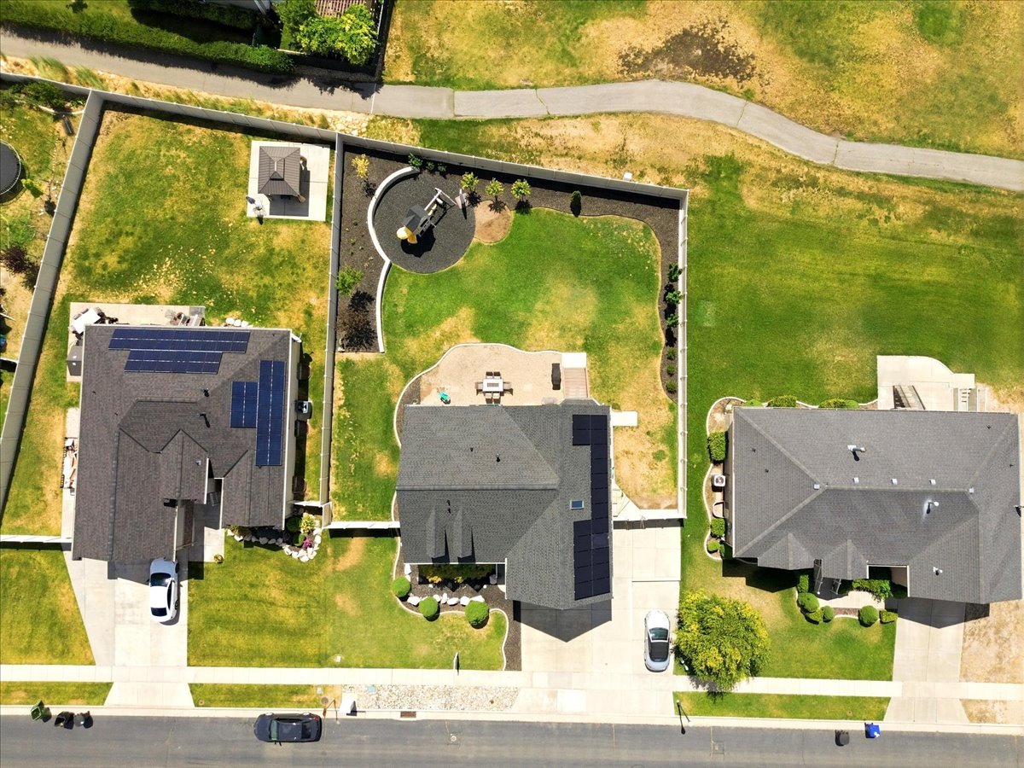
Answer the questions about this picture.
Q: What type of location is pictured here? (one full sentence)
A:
The area seen from above is a residential area.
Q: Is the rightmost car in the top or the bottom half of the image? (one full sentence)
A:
Seen from above, the rightmost car lies in the bottom half of the view.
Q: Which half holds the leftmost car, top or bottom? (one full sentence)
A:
It is in the bottom half that the leftmost car appears.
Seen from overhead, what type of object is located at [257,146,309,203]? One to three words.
gazebo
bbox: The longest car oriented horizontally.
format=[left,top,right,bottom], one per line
[255,712,324,746]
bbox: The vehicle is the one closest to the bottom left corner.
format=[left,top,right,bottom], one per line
[147,561,182,624]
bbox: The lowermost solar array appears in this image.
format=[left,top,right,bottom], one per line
[573,415,611,598]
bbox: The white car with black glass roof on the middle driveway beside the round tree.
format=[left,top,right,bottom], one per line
[642,606,673,672]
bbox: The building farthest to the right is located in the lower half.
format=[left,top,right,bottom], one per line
[724,405,1023,604]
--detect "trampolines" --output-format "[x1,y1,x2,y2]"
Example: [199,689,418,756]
[0,142,29,199]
